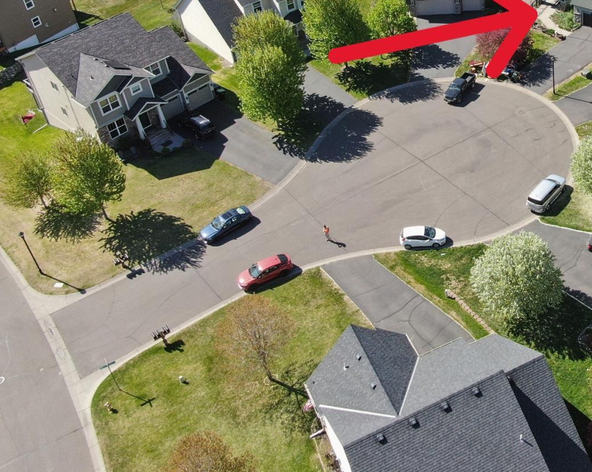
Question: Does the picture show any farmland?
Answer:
No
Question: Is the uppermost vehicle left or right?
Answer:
right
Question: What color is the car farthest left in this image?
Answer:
black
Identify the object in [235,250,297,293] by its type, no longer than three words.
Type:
car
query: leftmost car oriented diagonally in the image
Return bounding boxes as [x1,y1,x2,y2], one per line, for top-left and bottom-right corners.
[197,199,255,241]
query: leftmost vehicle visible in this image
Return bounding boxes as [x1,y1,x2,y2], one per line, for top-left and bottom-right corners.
[171,115,222,140]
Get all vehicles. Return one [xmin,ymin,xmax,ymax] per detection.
[443,67,482,102]
[398,226,447,252]
[171,115,222,140]
[235,250,297,293]
[523,173,575,215]
[197,199,255,241]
